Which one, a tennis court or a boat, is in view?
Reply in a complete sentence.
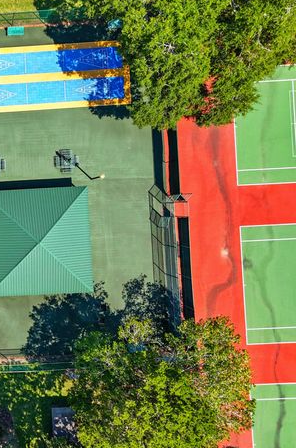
It is a tennis court that can be seen here.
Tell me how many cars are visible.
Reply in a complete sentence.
There are no cars in the image.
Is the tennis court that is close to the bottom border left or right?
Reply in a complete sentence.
The tennis court that is close to the bottom border sits on the right side.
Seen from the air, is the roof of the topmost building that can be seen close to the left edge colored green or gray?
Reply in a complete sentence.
The color of the roof of the topmost building that can be seen close to the left edge is green.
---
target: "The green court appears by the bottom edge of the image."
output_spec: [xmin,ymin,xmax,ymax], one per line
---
[250,382,296,448]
